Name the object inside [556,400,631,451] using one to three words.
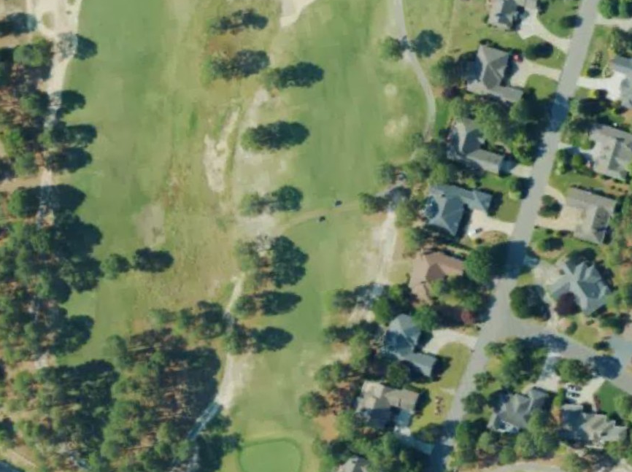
house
